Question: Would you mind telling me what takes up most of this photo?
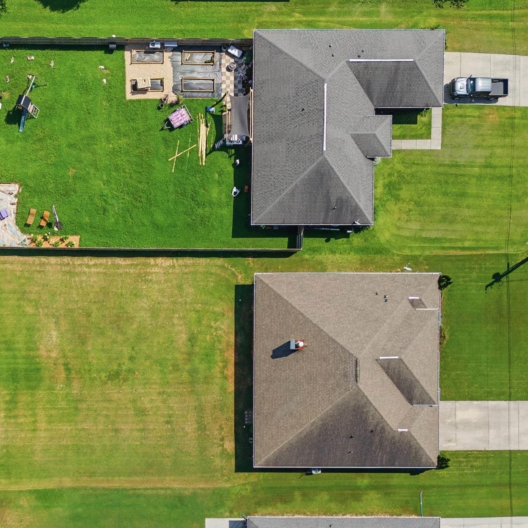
grass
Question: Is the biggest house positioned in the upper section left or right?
right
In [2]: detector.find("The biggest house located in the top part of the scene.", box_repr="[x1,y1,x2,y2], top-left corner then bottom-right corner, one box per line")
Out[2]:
[250,29,446,226]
